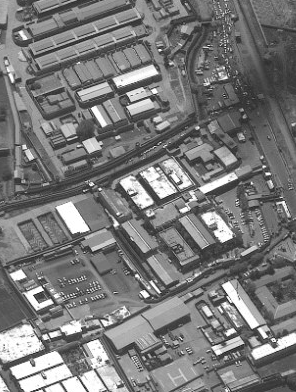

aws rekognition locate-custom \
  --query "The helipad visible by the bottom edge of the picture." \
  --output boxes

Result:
[150,357,202,392]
